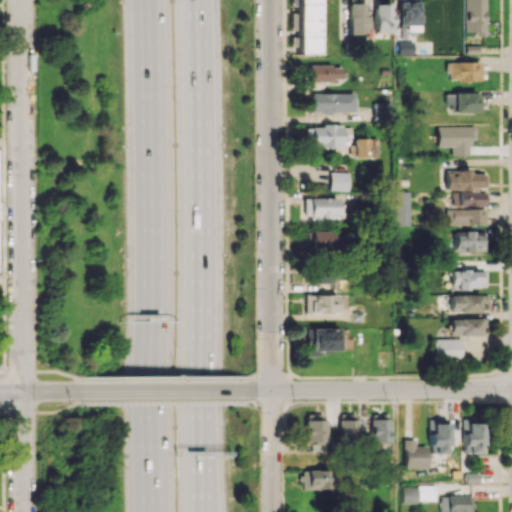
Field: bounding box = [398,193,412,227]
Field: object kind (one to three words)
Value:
shed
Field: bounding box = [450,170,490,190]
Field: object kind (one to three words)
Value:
house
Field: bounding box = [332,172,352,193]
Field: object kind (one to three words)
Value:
building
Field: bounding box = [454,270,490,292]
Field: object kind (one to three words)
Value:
house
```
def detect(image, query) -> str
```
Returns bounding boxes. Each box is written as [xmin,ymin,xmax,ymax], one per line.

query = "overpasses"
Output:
[73,376,256,406]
